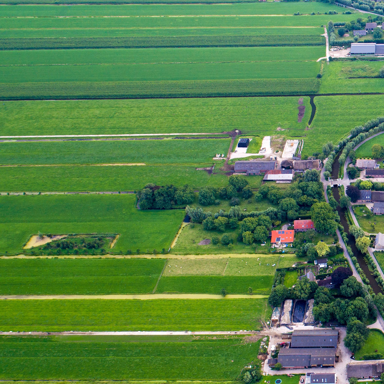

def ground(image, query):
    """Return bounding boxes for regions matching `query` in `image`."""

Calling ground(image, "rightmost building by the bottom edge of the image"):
[348,362,384,380]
